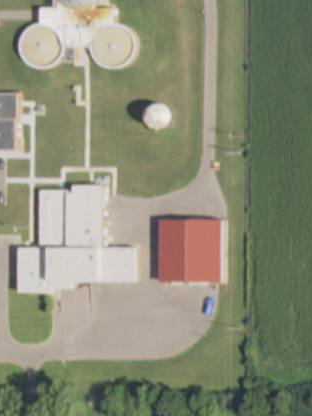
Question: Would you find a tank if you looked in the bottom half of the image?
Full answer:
No, I can find no tank in the bottom half of the image.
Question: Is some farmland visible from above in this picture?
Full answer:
Yes, some farmland is visible.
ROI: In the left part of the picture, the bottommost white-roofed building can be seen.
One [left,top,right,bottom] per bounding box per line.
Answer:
[18,184,143,294]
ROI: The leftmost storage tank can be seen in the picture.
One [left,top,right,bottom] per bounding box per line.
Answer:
[19,22,68,68]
